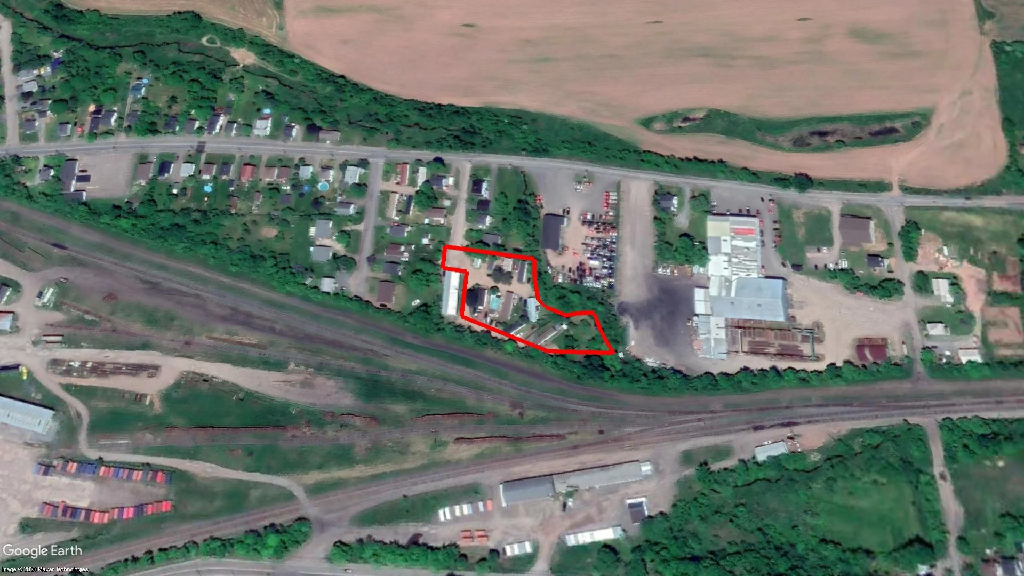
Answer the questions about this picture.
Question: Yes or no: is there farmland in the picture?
Yes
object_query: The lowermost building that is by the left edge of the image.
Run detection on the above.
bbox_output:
[0,394,58,433]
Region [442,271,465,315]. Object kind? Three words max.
barn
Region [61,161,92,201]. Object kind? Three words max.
building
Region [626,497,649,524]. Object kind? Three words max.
shed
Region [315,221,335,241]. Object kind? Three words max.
house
